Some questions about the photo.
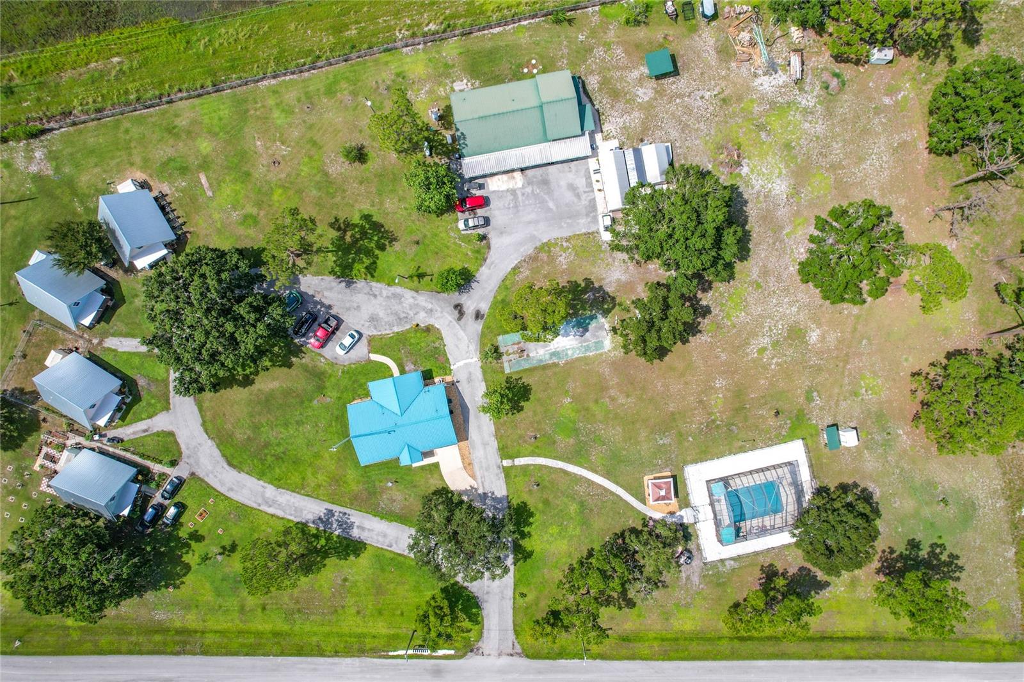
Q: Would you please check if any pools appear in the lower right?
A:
Yes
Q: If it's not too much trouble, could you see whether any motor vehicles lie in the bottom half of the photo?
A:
Yes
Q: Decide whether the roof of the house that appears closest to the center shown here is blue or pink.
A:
blue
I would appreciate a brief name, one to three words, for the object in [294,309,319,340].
car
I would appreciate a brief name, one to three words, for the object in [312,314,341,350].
truck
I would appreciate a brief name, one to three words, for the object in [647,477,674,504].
gazebo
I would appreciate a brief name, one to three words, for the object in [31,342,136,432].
building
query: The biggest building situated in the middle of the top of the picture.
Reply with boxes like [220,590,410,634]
[450,69,595,181]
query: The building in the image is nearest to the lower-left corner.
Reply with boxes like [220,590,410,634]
[48,440,153,525]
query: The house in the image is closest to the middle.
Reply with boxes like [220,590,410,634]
[347,371,457,466]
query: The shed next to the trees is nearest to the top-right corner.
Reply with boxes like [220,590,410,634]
[867,47,894,65]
